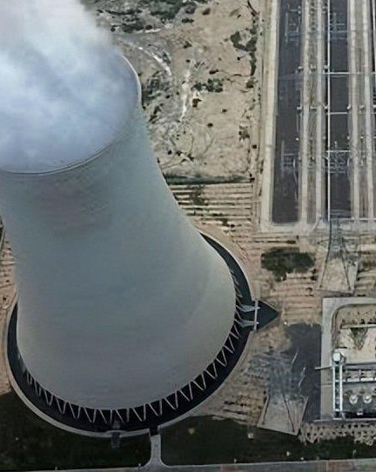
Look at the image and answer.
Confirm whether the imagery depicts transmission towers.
Yes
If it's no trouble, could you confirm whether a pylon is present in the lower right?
Yes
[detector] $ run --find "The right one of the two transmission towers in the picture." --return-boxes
[318,214,356,291]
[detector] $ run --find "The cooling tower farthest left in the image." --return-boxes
[0,38,252,435]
